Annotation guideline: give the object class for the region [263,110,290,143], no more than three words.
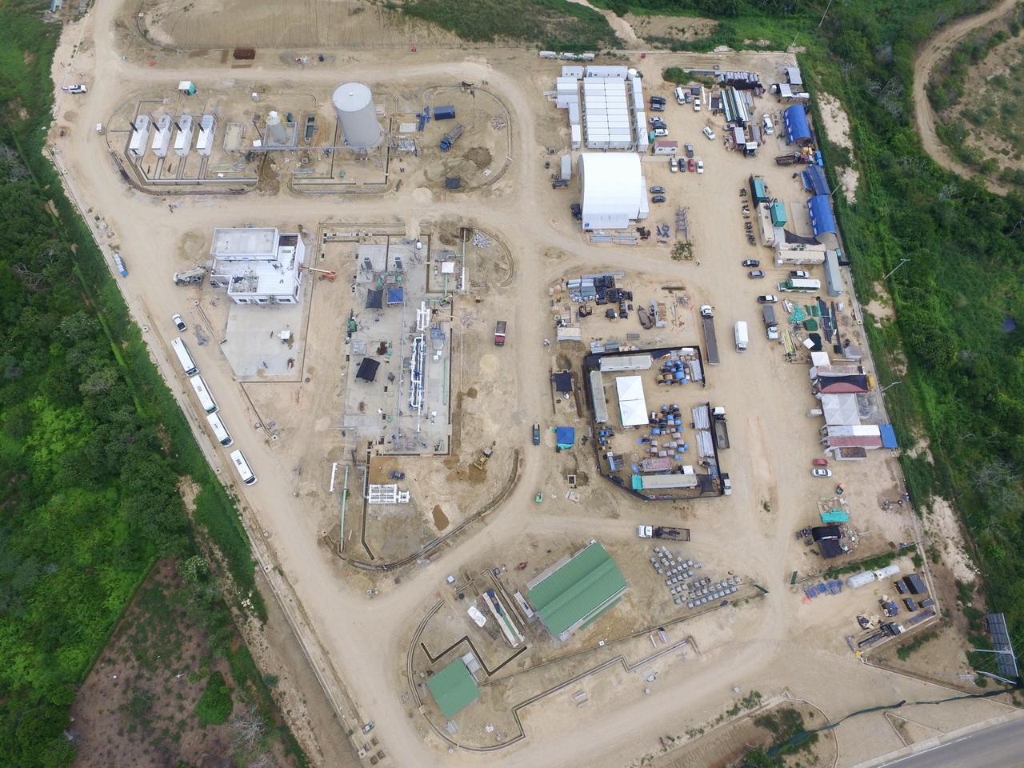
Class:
silo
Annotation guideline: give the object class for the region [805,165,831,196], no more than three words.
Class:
tent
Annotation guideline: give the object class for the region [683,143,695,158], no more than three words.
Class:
vehicle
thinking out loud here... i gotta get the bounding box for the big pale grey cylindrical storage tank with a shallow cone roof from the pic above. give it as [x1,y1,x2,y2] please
[331,82,385,150]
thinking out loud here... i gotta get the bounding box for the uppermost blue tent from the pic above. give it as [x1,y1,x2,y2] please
[784,104,815,145]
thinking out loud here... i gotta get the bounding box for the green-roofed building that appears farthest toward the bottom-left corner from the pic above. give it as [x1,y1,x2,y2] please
[427,658,482,718]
